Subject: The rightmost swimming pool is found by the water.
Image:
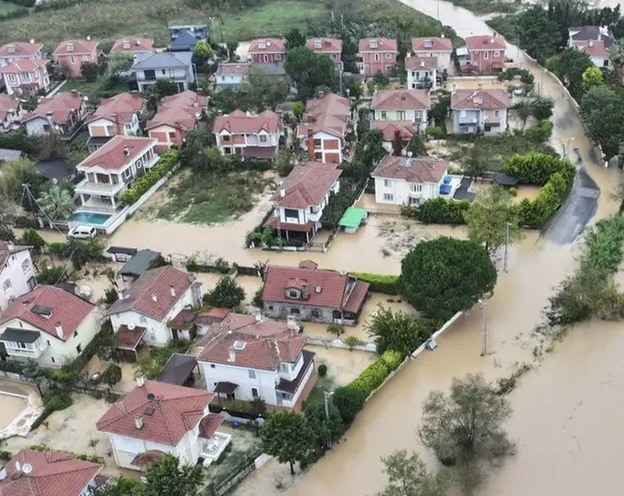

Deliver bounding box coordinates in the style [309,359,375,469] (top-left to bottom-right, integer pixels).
[62,200,130,240]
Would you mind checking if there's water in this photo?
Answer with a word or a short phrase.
Yes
